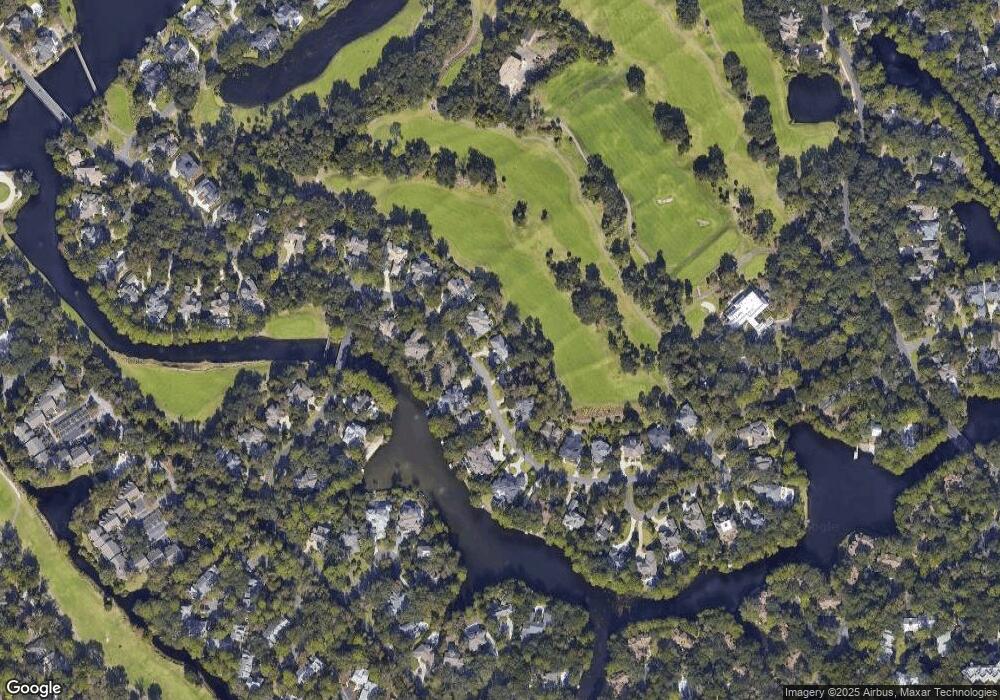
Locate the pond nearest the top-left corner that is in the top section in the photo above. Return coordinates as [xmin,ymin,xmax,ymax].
[223,0,409,105]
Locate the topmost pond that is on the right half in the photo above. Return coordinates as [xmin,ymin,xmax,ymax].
[788,73,844,123]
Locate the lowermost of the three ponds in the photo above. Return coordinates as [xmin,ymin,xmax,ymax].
[953,201,1000,265]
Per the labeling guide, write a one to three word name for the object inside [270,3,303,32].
house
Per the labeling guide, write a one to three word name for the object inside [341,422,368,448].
house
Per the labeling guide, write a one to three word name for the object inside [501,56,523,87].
shed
